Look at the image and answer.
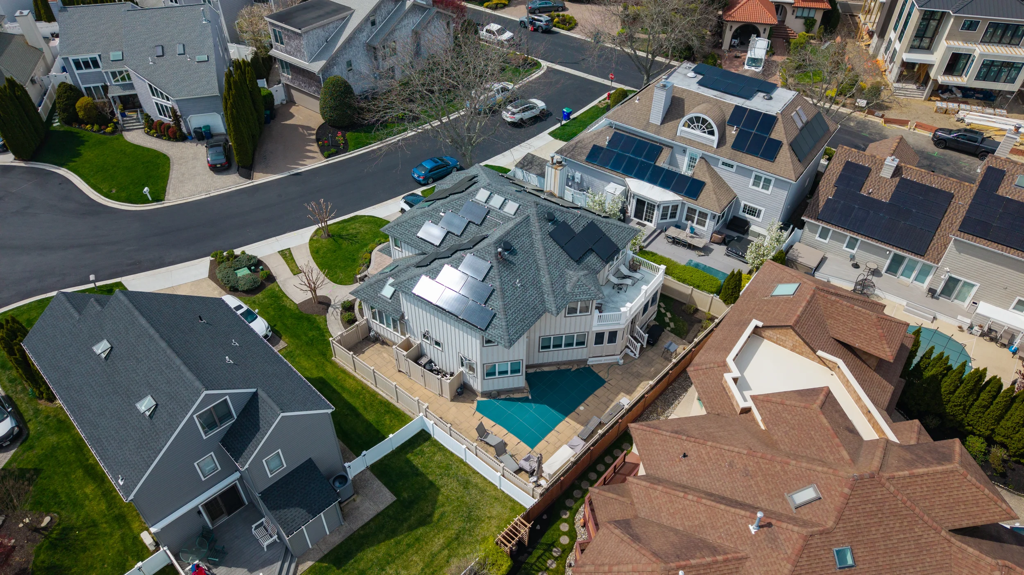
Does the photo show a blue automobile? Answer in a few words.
Yes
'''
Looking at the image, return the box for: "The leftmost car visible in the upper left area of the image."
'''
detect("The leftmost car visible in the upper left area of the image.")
[203,136,229,167]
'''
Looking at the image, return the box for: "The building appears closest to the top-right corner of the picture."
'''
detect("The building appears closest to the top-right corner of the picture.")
[857,0,1024,100]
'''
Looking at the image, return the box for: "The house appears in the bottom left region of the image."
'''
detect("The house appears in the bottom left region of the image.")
[21,288,348,575]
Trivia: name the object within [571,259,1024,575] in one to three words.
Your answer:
house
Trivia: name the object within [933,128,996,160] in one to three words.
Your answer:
truck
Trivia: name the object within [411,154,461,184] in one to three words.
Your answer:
car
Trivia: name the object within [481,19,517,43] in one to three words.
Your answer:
truck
